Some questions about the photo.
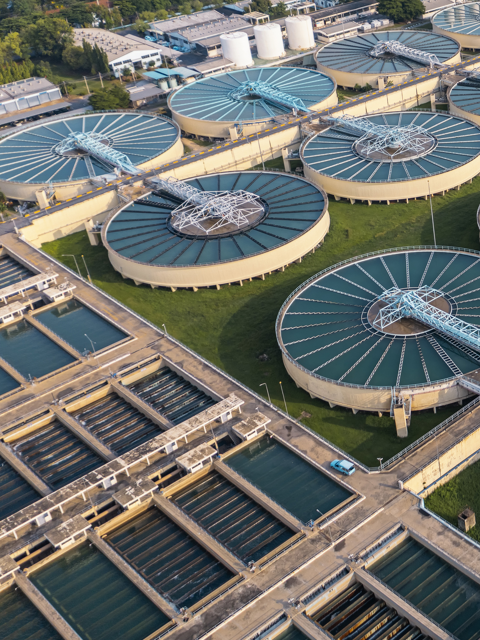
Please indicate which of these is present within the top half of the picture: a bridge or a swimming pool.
bridge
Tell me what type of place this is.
industrial area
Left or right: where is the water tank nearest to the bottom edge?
right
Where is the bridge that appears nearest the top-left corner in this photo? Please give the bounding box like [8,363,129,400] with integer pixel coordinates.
[76,132,140,173]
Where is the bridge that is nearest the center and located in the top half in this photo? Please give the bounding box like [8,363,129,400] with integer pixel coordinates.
[150,177,214,212]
